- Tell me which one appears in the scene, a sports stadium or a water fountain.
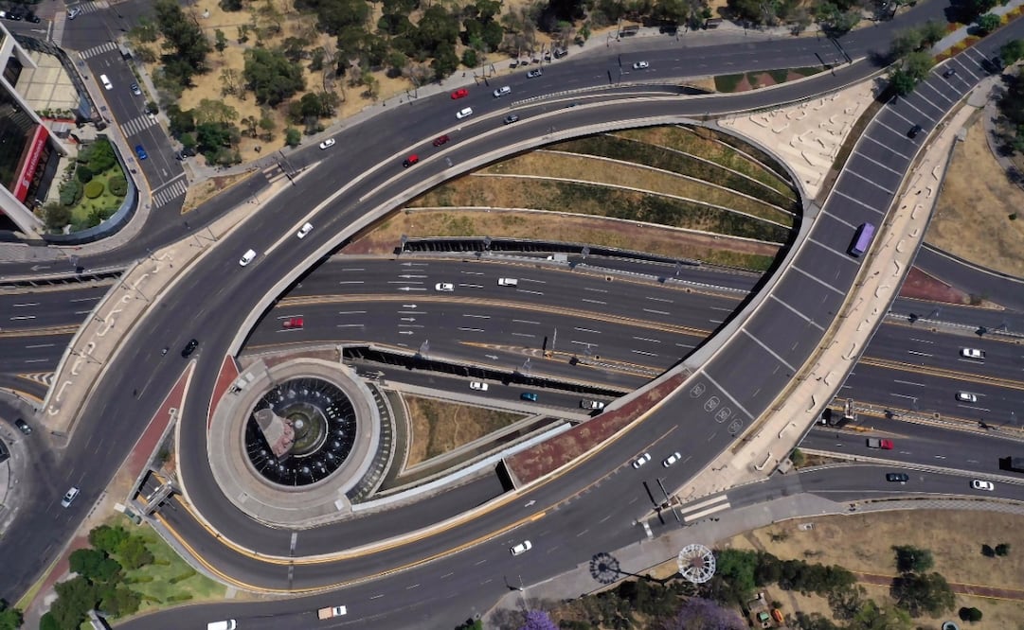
water fountain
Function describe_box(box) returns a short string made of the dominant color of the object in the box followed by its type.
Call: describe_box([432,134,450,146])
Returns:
red vehicle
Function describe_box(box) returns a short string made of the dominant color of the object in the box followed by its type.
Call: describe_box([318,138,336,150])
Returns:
white vehicle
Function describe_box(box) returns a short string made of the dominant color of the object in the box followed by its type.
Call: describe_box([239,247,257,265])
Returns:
white vehicle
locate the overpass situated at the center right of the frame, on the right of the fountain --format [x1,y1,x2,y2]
[516,48,991,489]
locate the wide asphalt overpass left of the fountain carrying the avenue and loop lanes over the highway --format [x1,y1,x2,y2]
[90,206,393,390]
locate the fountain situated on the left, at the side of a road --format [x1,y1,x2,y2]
[206,357,379,527]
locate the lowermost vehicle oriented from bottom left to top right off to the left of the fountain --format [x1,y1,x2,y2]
[60,485,80,508]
